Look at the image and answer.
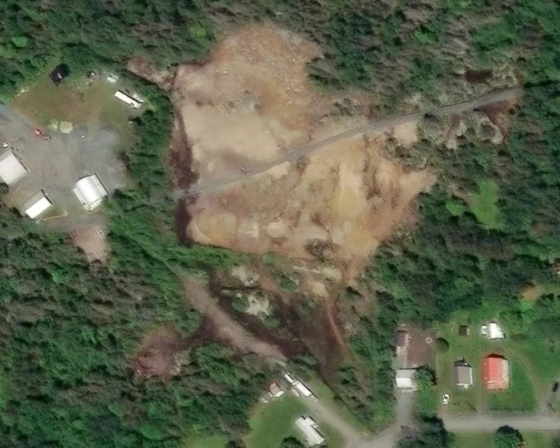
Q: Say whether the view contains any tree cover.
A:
Yes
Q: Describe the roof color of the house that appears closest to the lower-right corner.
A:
red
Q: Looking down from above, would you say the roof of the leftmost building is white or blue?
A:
white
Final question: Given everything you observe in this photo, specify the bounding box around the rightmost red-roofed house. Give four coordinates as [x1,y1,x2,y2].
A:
[483,358,507,386]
